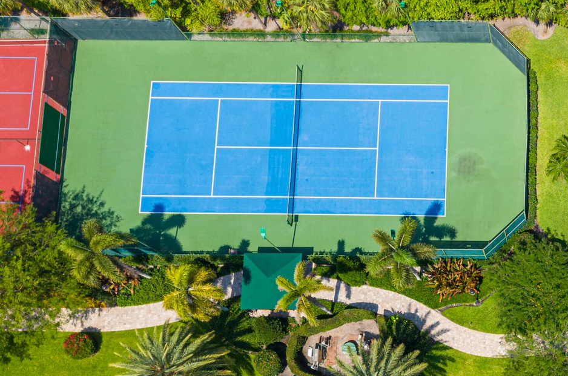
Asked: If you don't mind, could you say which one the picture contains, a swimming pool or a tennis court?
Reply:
tennis court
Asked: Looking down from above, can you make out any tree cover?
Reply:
Yes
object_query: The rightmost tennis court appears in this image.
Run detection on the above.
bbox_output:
[60,40,528,260]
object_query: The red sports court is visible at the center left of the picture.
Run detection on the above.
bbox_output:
[0,40,69,261]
